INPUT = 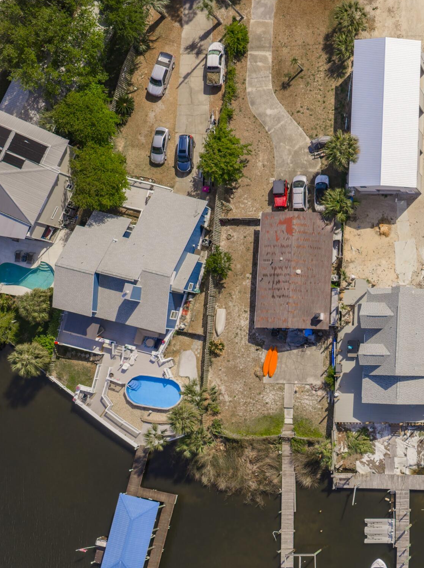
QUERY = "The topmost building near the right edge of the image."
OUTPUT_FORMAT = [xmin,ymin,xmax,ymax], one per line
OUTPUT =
[349,37,424,196]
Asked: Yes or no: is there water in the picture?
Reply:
Yes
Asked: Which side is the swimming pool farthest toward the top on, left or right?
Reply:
left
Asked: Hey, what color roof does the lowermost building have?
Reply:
blue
